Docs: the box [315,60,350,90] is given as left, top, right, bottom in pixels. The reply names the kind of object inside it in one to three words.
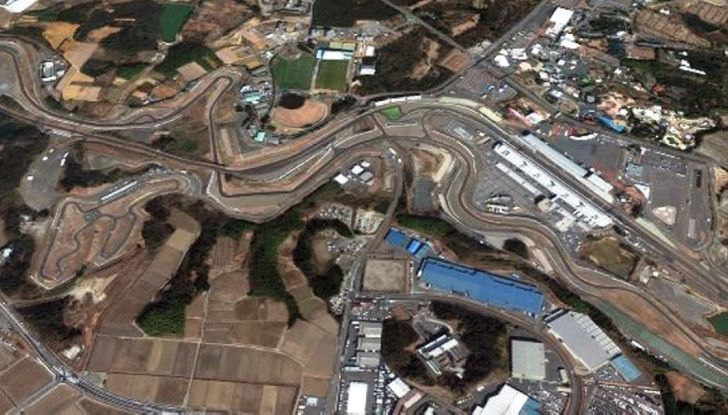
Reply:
soccer field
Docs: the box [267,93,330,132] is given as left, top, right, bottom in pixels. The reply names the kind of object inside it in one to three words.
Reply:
baseball field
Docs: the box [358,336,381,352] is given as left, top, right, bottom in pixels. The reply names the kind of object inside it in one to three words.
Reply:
building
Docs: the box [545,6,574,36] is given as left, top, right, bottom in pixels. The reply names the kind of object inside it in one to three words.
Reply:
building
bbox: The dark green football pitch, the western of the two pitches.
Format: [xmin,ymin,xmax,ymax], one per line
[275,55,313,90]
